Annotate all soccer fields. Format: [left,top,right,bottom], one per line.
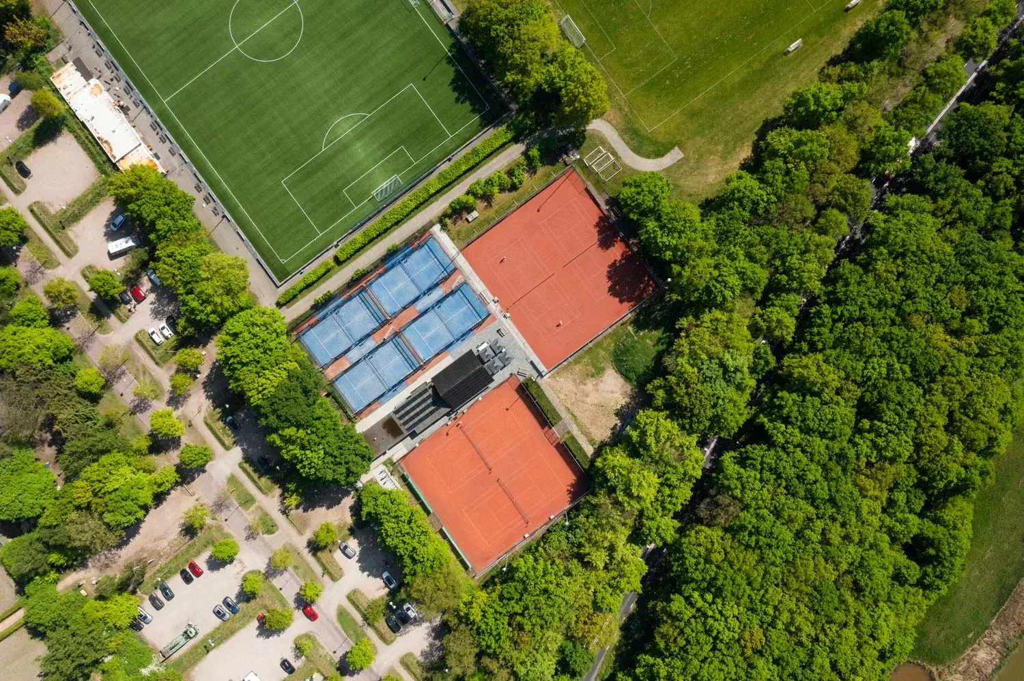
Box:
[554,0,831,132]
[69,0,509,286]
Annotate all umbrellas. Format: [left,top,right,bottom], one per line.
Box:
[486,356,505,374]
[488,336,507,354]
[477,345,496,363]
[497,347,516,366]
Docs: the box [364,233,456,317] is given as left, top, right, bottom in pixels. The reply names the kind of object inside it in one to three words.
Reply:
sports court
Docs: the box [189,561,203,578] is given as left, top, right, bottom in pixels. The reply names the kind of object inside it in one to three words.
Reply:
car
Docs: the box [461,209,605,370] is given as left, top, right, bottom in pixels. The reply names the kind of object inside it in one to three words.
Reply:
tennis court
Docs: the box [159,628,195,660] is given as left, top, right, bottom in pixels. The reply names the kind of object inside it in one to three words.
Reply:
truck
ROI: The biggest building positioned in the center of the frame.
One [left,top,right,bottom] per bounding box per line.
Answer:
[364,350,494,457]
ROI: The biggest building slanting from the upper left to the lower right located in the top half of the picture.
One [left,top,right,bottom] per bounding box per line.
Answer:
[50,53,174,191]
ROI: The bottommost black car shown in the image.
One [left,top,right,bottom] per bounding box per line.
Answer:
[280,658,295,676]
